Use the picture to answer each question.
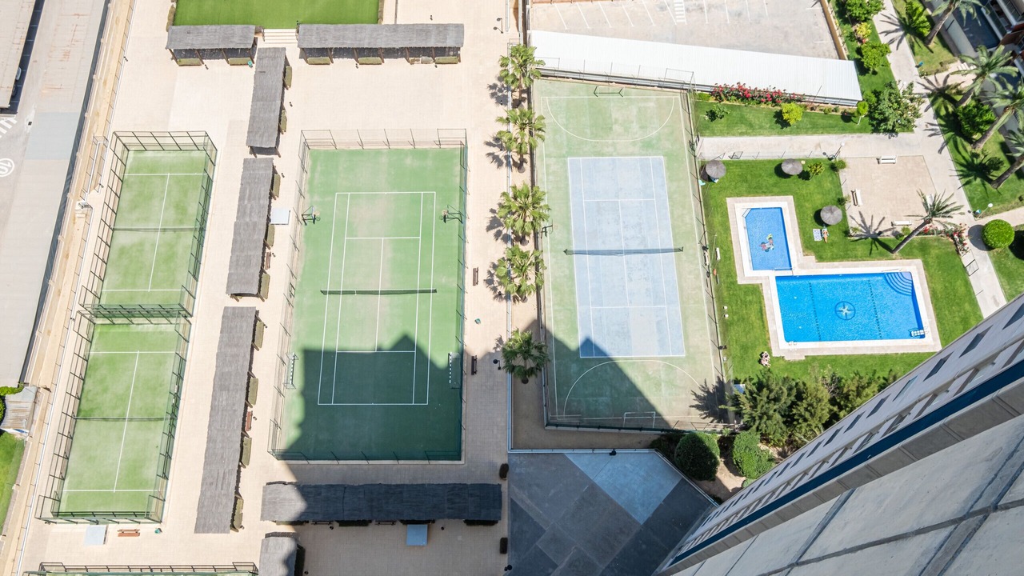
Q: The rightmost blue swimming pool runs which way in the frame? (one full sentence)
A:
What the image shows is the rightmost blue swimming pool lying from left to right.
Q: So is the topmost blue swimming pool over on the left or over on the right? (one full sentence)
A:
It is on the right.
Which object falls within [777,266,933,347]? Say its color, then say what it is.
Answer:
blue swimming pool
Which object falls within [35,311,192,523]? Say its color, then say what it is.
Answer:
green sports court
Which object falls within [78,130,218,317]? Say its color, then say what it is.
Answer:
green sports court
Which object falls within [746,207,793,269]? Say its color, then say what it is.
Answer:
blue swimming pool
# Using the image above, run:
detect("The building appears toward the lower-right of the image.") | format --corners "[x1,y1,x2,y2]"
[654,292,1024,576]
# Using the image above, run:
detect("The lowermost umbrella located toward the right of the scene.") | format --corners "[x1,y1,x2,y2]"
[817,206,841,227]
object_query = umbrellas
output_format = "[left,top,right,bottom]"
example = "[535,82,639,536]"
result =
[817,206,841,227]
[702,160,725,180]
[779,158,802,178]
